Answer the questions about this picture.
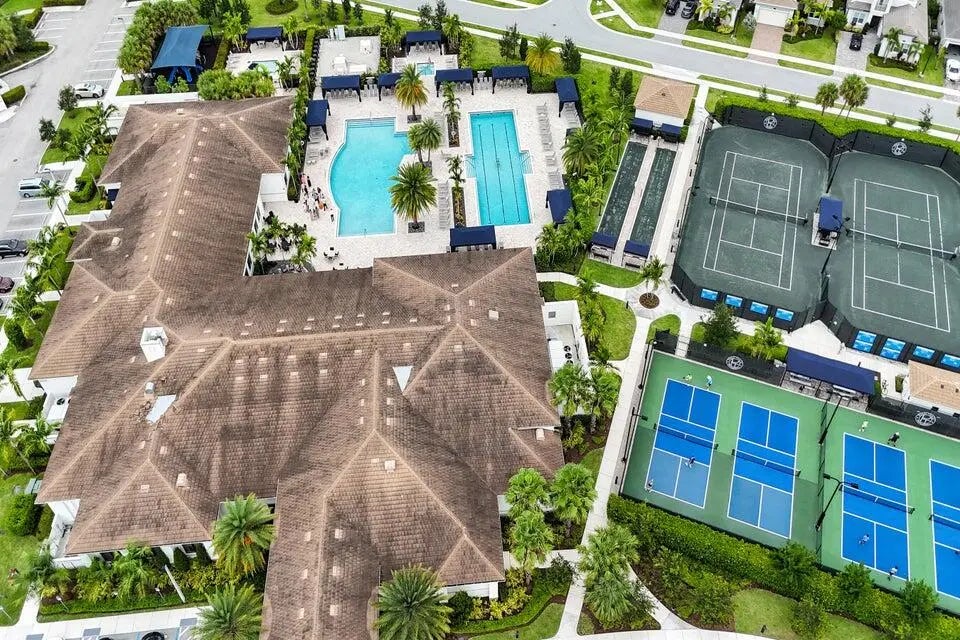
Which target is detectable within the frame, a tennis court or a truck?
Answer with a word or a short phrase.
tennis court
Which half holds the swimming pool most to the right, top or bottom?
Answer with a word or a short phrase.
top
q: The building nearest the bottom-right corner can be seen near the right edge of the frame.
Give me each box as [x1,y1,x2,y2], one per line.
[900,359,960,424]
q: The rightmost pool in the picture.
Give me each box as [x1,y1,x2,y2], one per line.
[463,110,534,226]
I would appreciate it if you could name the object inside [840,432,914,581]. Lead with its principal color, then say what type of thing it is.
blue sports court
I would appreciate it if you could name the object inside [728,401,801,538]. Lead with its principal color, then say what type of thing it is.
blue sports court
